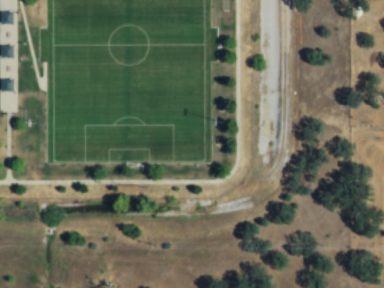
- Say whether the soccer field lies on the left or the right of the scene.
left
